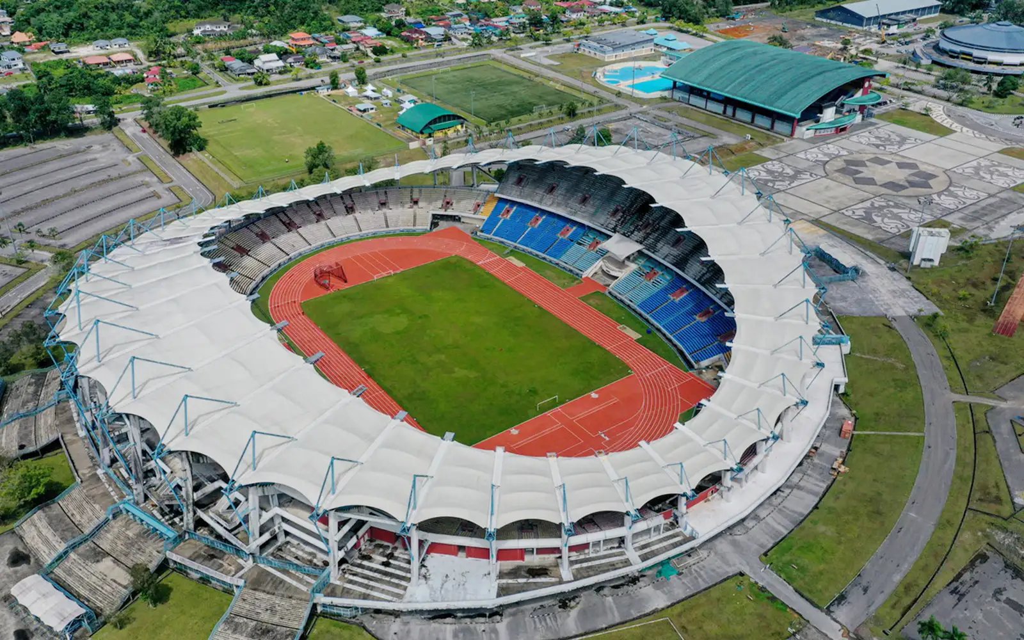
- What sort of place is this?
sports ground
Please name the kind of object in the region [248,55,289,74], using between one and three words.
house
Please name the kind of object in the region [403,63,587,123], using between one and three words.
sports field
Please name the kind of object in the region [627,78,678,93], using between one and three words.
swimming pool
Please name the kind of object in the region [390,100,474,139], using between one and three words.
building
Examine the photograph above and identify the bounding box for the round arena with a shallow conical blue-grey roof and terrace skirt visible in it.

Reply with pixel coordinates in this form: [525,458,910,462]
[893,17,1024,71]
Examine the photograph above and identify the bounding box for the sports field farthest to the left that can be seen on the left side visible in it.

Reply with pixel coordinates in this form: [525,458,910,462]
[194,95,406,182]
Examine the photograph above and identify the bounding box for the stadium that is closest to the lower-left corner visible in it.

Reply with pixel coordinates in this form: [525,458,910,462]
[44,125,862,619]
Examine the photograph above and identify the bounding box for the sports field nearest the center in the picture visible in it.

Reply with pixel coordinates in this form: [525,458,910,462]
[302,255,632,448]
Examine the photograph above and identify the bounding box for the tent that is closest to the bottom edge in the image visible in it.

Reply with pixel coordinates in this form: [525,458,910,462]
[10,572,92,633]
